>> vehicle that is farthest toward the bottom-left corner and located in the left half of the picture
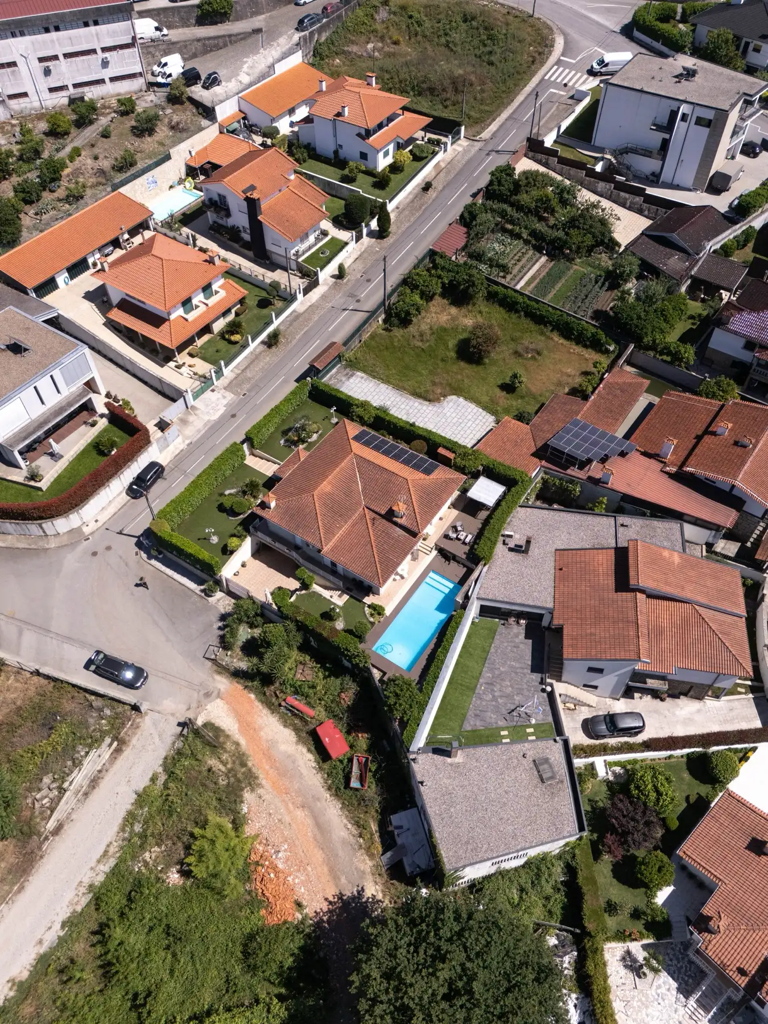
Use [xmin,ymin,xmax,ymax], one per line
[82,647,149,692]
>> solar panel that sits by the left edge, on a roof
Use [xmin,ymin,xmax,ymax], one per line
[1,329,29,354]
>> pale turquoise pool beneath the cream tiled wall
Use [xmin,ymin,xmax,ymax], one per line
[147,185,204,226]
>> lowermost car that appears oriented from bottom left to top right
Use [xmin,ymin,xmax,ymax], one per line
[122,457,169,497]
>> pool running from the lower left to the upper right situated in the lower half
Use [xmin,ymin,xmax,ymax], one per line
[370,568,478,676]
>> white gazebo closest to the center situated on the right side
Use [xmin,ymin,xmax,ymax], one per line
[464,477,507,524]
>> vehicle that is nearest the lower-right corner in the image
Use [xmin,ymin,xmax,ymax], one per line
[587,712,650,743]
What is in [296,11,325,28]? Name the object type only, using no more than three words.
car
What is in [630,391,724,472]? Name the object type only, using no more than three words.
house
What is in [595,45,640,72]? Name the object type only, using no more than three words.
vehicle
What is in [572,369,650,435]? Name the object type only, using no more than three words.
shed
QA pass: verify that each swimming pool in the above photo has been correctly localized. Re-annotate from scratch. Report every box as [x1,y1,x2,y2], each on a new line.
[147,185,204,226]
[370,568,478,676]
